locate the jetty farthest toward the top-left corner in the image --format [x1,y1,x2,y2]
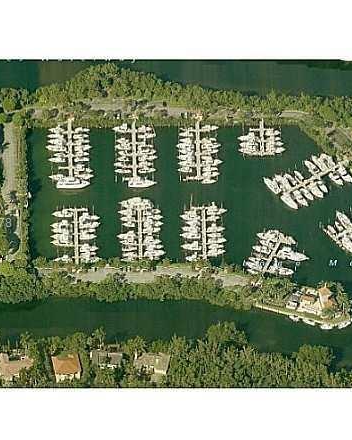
[55,116,86,181]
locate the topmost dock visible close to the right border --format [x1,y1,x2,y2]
[268,160,347,208]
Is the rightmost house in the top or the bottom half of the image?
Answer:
bottom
